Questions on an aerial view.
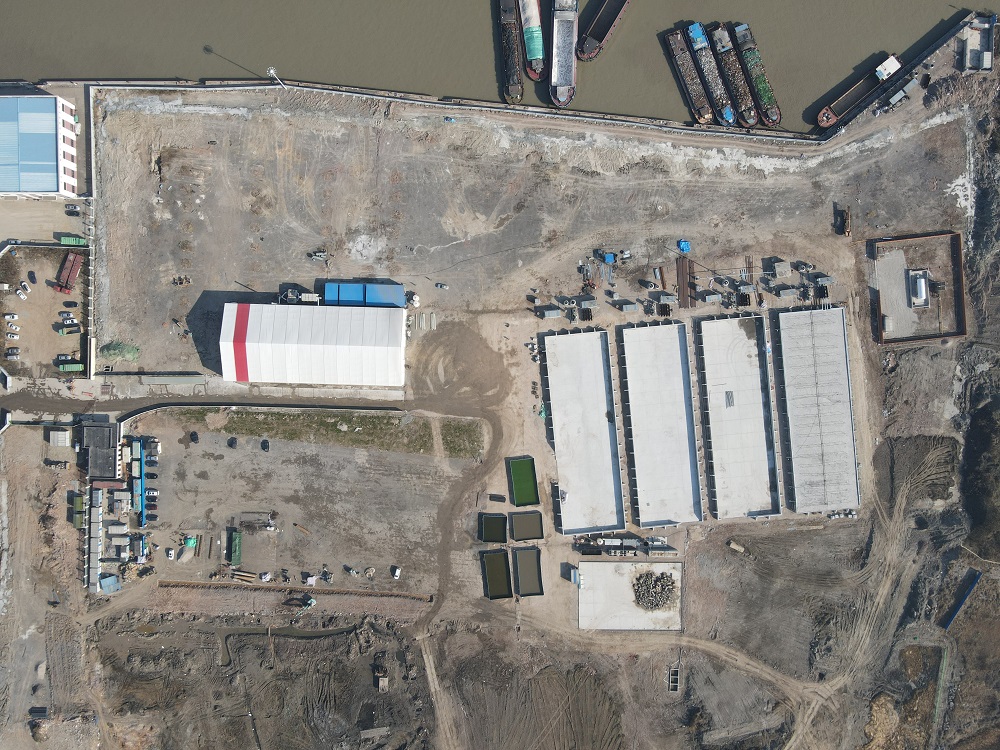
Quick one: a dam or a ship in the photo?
ship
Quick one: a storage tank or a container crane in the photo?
storage tank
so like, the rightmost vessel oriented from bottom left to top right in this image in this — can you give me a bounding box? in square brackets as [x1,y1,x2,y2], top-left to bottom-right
[814,51,908,127]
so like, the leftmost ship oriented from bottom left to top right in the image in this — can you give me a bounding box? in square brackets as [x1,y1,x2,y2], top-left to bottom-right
[580,0,630,60]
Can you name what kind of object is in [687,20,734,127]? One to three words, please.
ship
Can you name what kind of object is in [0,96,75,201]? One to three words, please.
building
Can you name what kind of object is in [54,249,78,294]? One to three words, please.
truck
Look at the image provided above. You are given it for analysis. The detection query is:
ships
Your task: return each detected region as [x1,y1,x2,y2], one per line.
[580,0,630,60]
[814,51,908,127]
[521,0,548,81]
[734,21,778,128]
[551,0,578,106]
[710,23,757,128]
[687,20,734,127]
[499,0,524,104]
[666,30,712,124]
